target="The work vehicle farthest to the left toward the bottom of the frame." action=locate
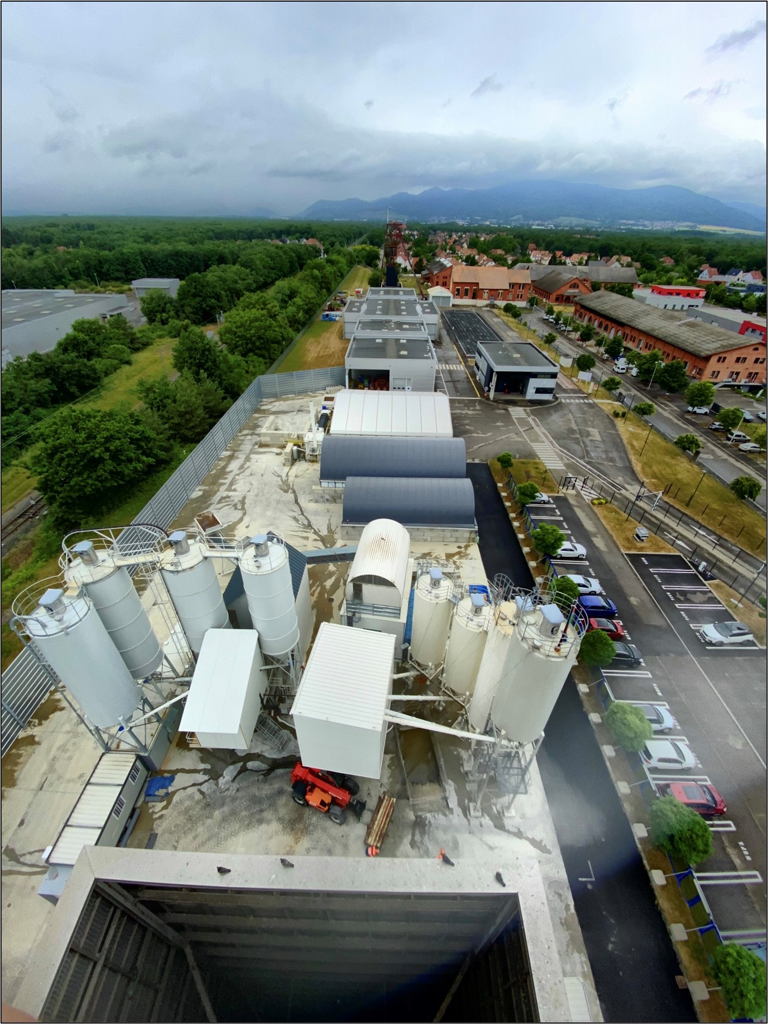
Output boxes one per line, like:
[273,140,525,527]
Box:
[286,756,358,821]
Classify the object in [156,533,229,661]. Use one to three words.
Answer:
silo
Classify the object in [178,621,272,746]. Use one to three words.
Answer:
shed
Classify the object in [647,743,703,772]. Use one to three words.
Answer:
car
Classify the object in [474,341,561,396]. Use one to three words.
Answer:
building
